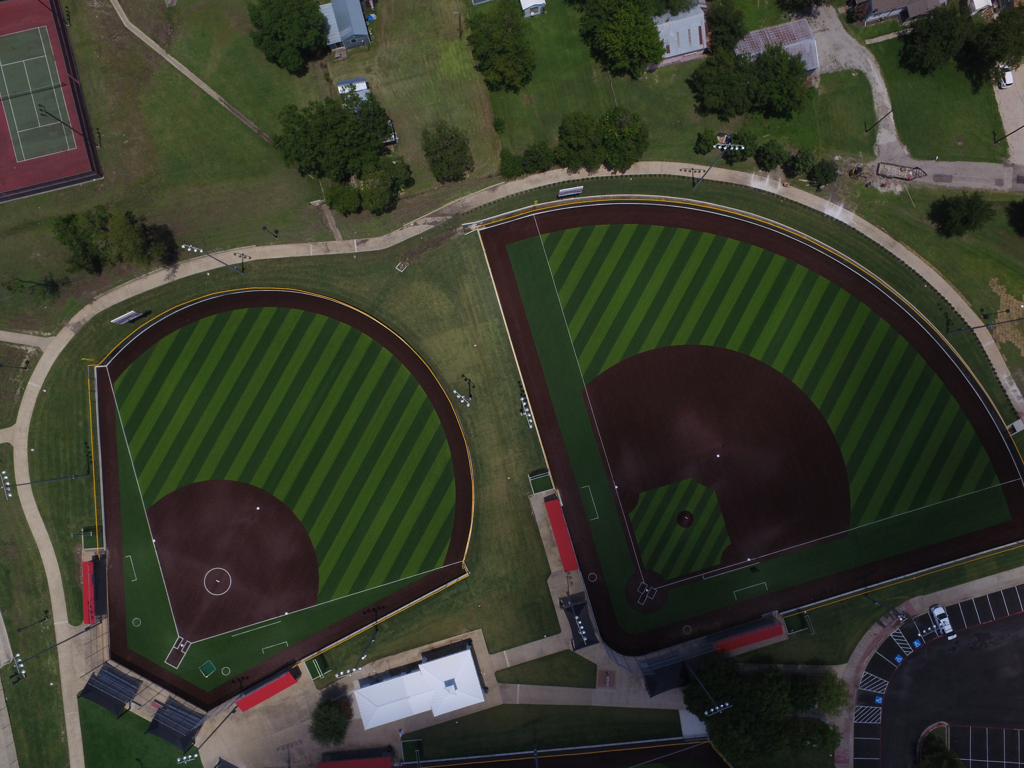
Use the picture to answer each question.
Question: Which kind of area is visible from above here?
sports ground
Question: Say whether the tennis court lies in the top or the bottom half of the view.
top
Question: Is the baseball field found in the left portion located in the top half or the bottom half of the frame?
bottom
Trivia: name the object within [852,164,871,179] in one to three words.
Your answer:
work vehicle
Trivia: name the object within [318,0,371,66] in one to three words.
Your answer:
house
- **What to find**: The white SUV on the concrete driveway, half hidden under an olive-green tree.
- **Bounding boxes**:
[998,64,1018,91]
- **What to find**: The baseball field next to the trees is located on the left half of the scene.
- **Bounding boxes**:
[96,291,473,712]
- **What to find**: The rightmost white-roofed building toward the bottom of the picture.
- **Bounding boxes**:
[354,649,484,730]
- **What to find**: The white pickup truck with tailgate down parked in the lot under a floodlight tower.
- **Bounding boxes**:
[930,603,955,638]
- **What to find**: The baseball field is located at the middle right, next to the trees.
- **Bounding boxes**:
[480,205,1024,655]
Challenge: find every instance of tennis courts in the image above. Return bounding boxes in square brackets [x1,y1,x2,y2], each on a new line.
[0,0,92,194]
